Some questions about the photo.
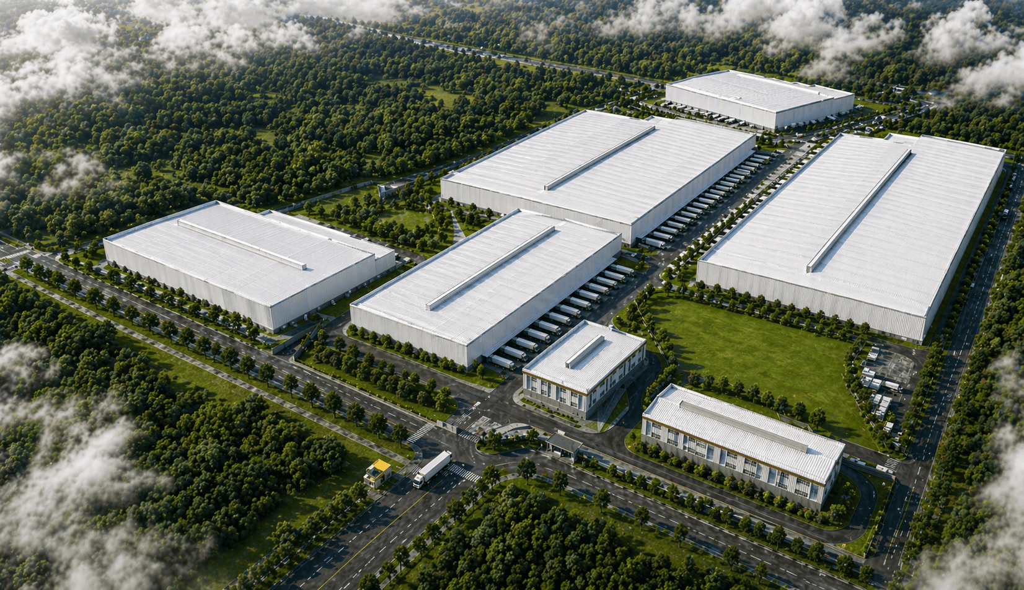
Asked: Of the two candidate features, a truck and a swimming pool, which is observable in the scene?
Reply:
truck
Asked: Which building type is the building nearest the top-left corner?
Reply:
warehouse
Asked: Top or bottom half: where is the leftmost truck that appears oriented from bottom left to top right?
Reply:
bottom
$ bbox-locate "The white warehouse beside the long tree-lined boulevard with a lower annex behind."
[101,201,399,333]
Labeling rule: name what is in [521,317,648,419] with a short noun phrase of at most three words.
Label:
building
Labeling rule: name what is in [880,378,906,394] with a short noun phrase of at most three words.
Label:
vehicle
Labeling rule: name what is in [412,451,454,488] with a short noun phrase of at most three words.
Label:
truck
